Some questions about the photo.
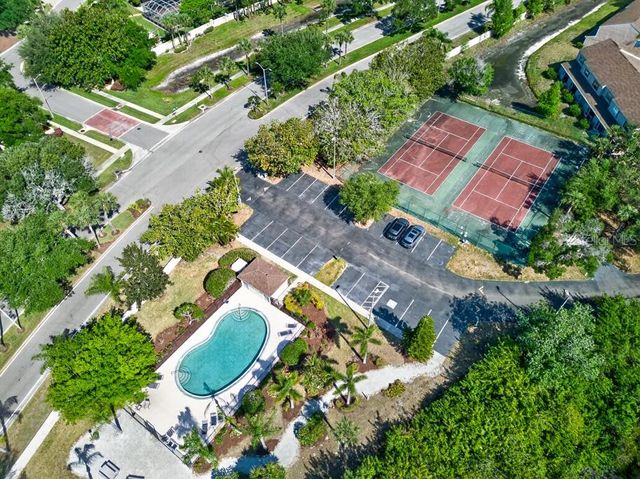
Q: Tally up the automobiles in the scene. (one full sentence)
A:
I count 2 automobiles.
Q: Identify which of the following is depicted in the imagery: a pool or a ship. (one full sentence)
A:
Of the two, only a pool appears.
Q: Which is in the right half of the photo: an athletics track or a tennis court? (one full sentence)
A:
There is a tennis court in the right half of the photo.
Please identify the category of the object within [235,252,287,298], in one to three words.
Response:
building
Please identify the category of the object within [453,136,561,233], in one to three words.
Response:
tennis court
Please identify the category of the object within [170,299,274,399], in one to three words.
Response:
swimming pool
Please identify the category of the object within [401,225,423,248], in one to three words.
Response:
car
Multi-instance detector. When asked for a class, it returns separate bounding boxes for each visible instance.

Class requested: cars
[386,218,408,241]
[401,225,423,248]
